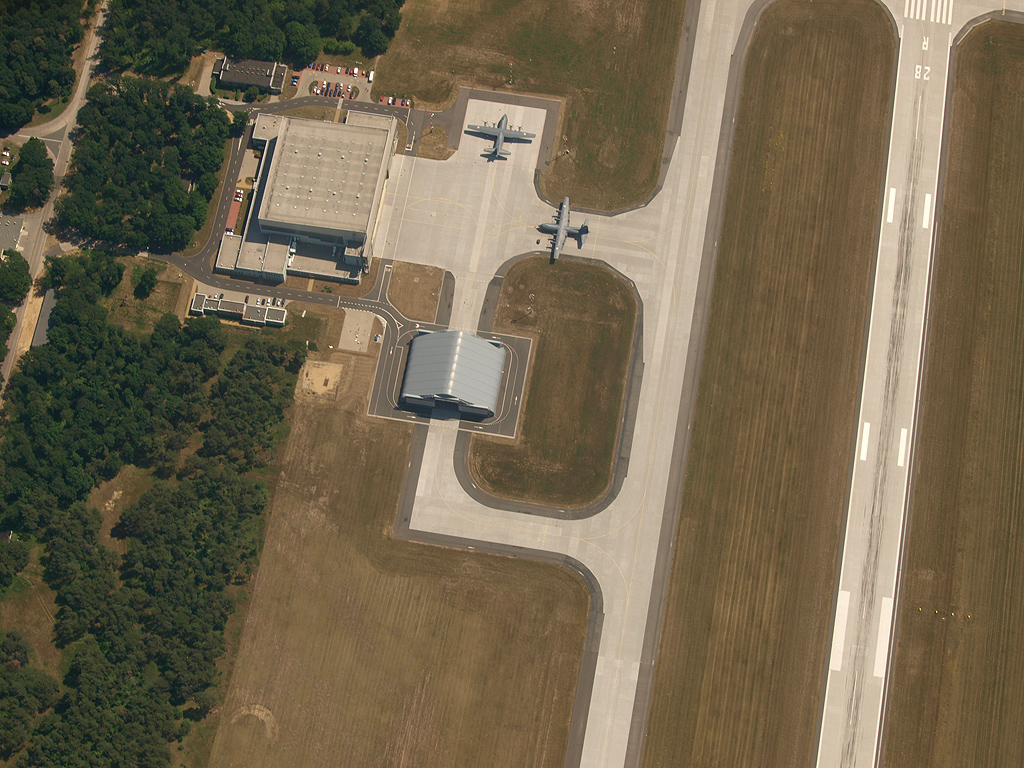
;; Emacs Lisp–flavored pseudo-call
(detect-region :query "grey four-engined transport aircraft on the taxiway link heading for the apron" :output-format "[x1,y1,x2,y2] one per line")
[540,196,592,259]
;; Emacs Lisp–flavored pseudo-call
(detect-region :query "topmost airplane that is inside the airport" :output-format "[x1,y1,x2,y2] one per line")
[467,115,537,157]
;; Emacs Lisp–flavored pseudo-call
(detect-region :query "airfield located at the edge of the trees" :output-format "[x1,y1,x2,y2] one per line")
[372,0,1024,768]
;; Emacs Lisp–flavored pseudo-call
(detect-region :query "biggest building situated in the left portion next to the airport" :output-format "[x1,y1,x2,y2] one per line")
[216,110,398,284]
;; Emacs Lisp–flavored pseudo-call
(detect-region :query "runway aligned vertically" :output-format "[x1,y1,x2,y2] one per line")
[816,0,954,768]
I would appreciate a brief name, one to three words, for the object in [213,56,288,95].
building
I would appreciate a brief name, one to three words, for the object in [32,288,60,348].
shed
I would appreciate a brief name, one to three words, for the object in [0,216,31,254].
building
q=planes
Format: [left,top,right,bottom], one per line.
[540,196,592,259]
[467,115,537,157]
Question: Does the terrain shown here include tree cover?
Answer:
Yes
